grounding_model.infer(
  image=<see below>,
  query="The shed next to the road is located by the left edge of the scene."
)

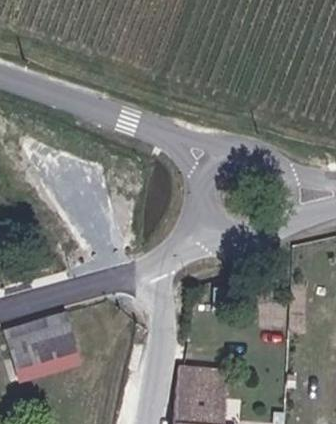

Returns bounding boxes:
[4,312,86,384]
